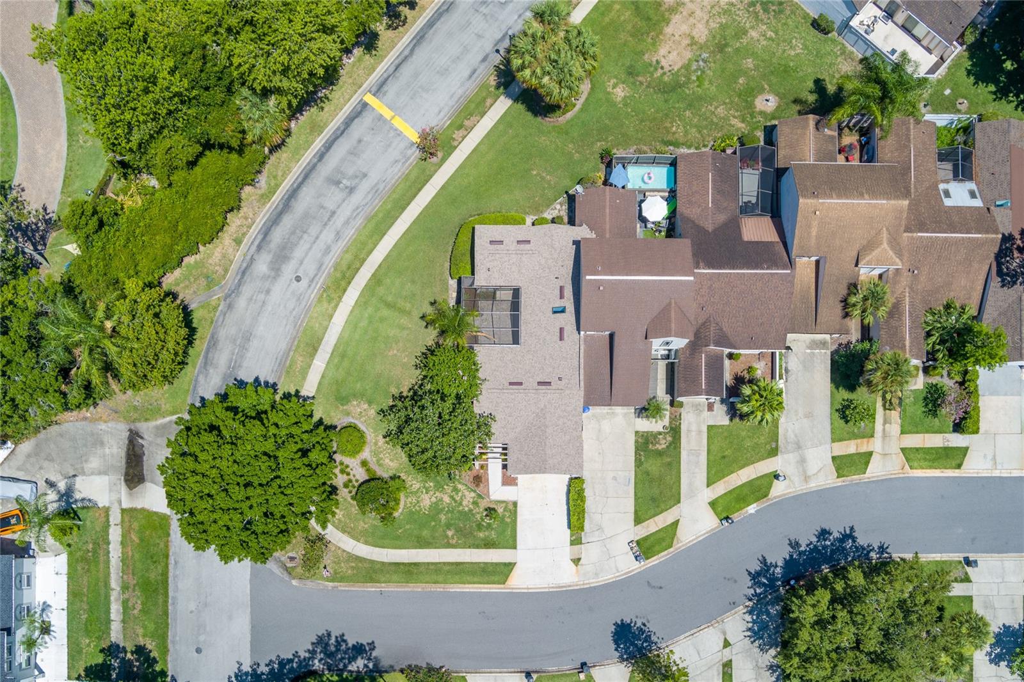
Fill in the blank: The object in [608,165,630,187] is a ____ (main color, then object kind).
blue umbrella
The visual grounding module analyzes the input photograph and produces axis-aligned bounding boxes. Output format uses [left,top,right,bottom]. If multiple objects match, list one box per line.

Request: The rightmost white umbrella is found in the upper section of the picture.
[641,197,666,222]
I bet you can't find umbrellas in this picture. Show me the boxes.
[608,165,630,187]
[641,197,666,222]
